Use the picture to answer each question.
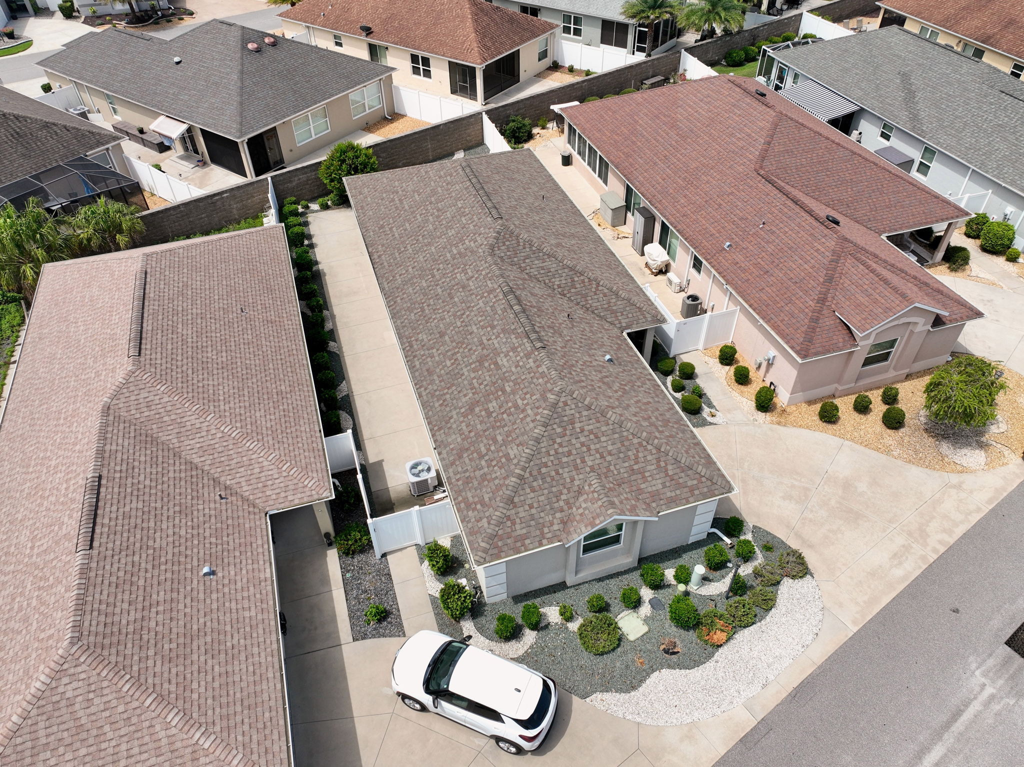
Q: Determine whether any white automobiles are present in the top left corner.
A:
No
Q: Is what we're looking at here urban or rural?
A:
urban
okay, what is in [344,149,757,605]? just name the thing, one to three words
house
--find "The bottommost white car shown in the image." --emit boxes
[388,631,563,756]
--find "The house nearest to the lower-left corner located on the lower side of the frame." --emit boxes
[0,224,341,767]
